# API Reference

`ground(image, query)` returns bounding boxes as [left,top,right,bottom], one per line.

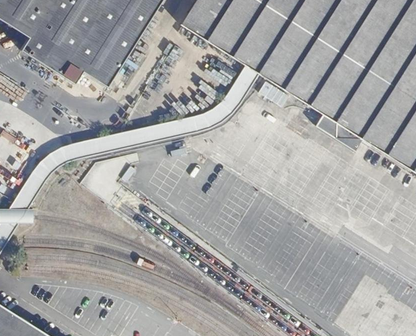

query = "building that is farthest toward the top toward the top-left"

[0,0,164,86]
